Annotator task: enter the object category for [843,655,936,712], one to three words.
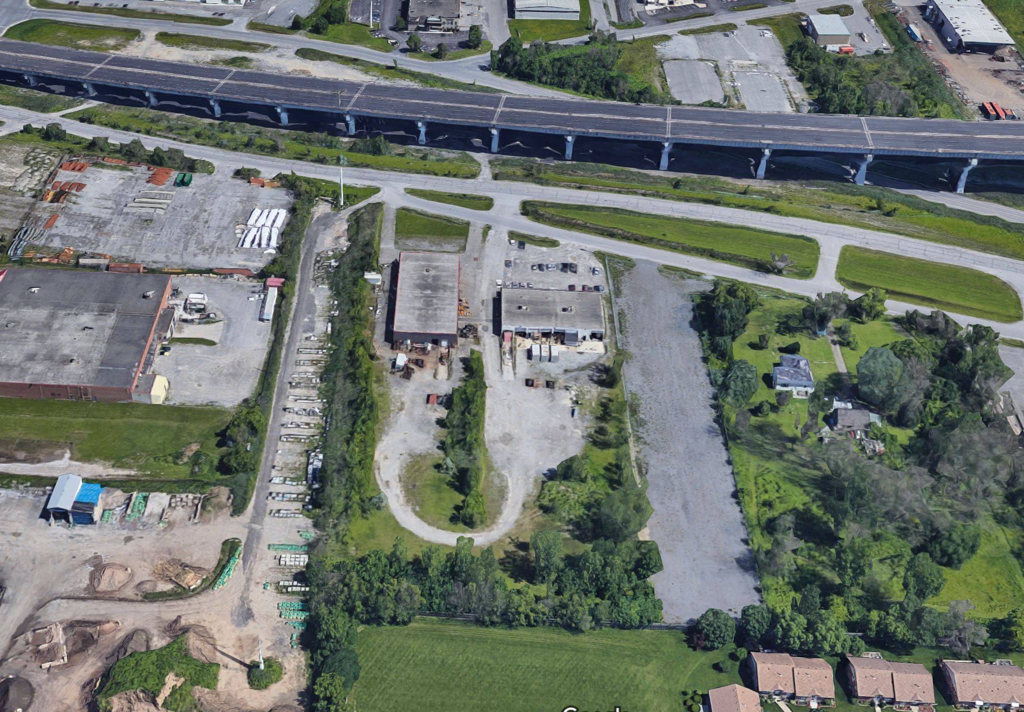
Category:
house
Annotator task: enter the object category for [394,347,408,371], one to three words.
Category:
vehicle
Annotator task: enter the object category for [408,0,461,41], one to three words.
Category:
building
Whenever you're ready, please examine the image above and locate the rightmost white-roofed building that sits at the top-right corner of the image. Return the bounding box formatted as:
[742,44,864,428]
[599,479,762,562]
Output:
[918,0,1016,61]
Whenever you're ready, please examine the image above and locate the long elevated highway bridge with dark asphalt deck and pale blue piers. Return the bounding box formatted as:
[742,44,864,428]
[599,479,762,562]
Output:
[0,45,1024,190]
